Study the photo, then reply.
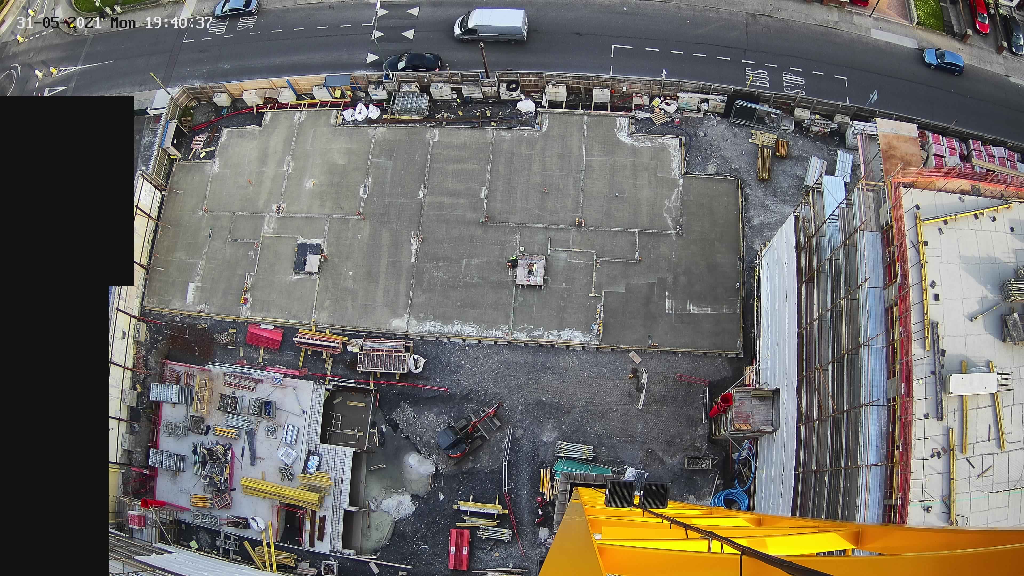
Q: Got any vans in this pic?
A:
Yes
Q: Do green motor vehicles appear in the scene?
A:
No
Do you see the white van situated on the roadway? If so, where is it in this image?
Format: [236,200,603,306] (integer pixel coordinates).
[455,8,528,45]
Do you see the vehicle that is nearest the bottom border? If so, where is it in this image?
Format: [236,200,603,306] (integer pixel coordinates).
[431,399,503,465]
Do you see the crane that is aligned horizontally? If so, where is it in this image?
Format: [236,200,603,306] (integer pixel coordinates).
[538,491,1024,576]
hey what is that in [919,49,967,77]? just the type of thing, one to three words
car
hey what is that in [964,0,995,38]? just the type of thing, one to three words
car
